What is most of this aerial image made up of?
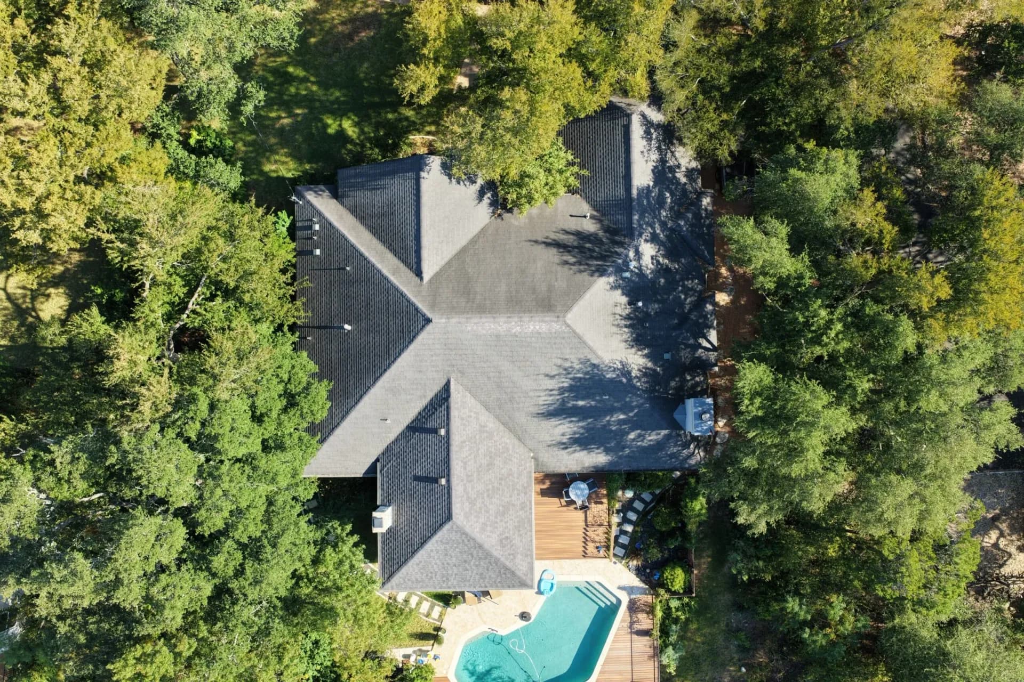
trees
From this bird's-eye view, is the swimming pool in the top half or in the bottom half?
bottom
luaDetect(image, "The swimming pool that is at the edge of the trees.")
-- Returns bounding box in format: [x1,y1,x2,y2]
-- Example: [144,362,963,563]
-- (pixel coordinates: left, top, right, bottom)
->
[449,576,628,682]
